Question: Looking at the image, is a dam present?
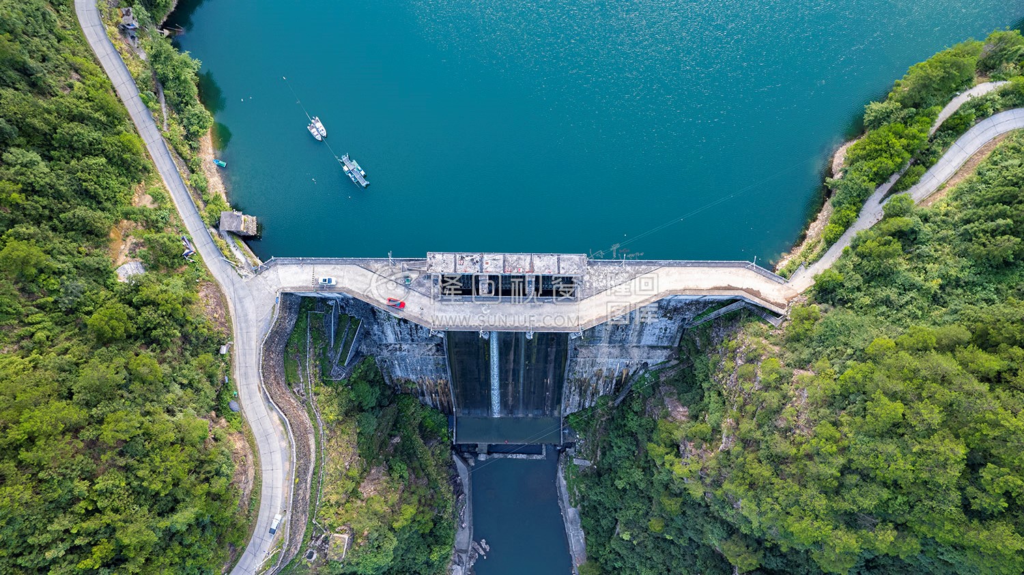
Yes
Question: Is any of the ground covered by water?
Yes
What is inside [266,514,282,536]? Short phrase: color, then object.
white vehicle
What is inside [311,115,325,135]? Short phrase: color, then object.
white boat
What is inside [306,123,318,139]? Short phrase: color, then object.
white boat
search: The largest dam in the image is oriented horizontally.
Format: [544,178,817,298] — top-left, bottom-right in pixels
[251,258,789,447]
